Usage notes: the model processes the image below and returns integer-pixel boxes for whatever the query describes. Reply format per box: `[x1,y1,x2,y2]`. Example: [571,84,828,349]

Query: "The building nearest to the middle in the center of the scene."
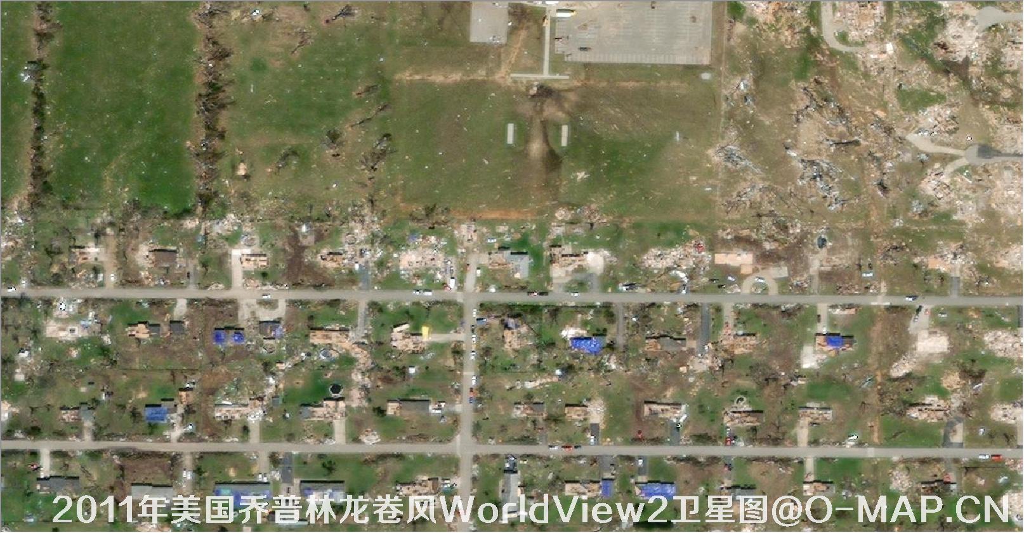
[484,247,534,284]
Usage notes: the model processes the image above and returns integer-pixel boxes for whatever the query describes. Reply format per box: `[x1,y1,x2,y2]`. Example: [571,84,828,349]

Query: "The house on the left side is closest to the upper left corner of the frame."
[67,245,111,269]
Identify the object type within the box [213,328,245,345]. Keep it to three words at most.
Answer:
house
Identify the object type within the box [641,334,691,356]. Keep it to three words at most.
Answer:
house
